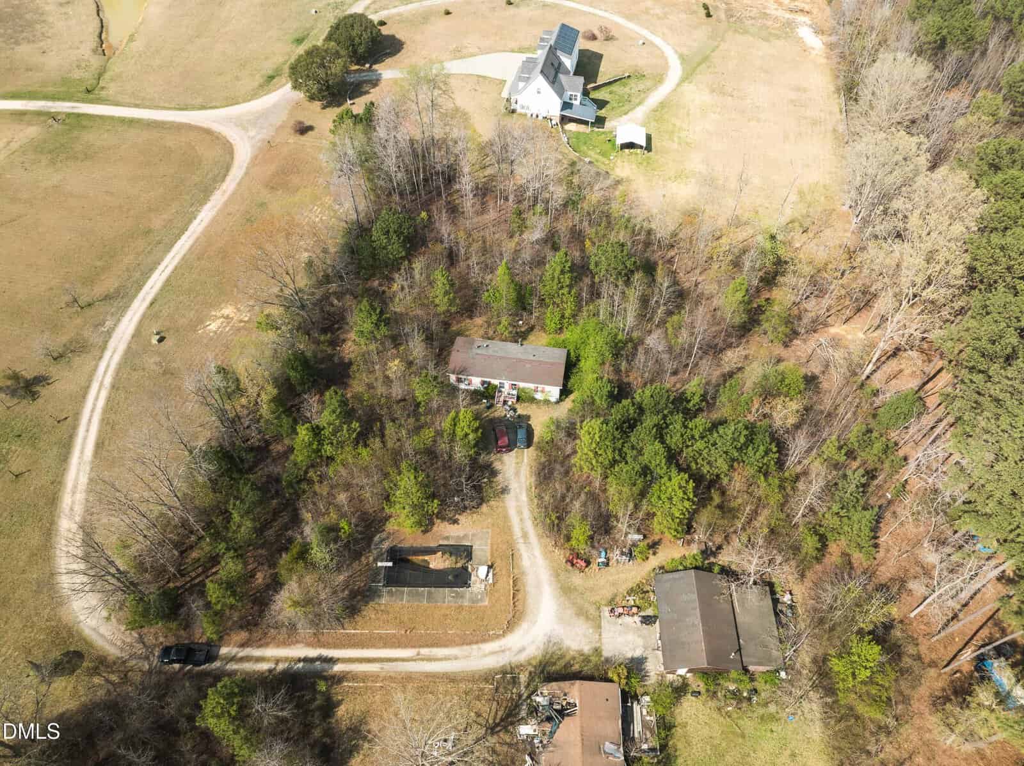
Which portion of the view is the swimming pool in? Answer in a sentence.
You can find the swimming pool in the bottom area of the picture.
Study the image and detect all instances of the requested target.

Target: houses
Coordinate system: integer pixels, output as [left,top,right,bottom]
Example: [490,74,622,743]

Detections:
[529,681,628,766]
[508,16,598,131]
[652,570,783,674]
[446,336,568,409]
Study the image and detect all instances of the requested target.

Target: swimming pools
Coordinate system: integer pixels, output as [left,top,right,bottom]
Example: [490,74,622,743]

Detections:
[363,532,490,605]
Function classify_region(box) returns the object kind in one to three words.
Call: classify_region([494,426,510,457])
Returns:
car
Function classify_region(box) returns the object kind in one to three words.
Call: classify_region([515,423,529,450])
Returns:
car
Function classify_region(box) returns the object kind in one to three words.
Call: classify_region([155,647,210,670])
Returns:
truck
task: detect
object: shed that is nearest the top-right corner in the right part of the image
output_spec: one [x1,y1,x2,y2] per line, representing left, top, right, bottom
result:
[616,124,647,153]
